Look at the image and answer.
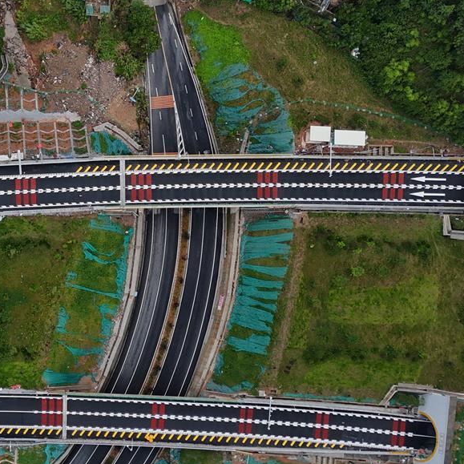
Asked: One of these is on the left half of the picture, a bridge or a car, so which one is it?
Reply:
bridge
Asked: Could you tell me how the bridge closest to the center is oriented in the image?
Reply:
from side to side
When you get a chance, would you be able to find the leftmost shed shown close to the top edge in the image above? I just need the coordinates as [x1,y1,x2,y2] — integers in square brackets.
[86,0,111,15]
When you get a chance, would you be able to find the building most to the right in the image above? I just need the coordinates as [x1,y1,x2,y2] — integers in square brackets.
[329,129,366,147]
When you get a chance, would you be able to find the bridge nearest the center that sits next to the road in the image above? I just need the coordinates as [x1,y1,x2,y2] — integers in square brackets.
[86,152,287,210]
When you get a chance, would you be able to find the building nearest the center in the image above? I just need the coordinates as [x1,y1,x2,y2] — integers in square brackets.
[305,125,331,143]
